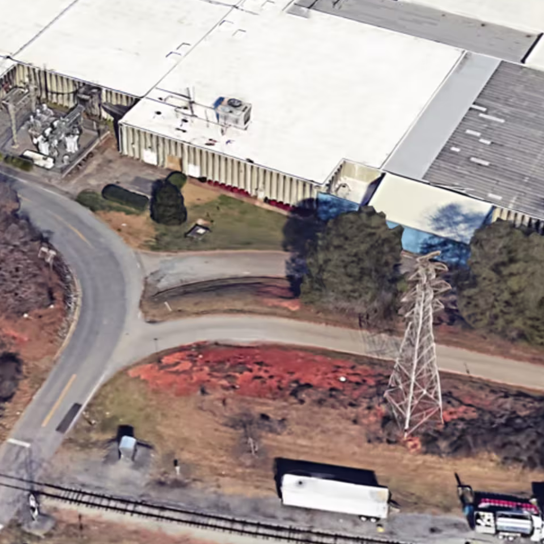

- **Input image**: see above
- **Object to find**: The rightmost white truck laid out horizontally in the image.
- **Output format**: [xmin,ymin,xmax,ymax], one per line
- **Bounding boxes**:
[476,513,544,544]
